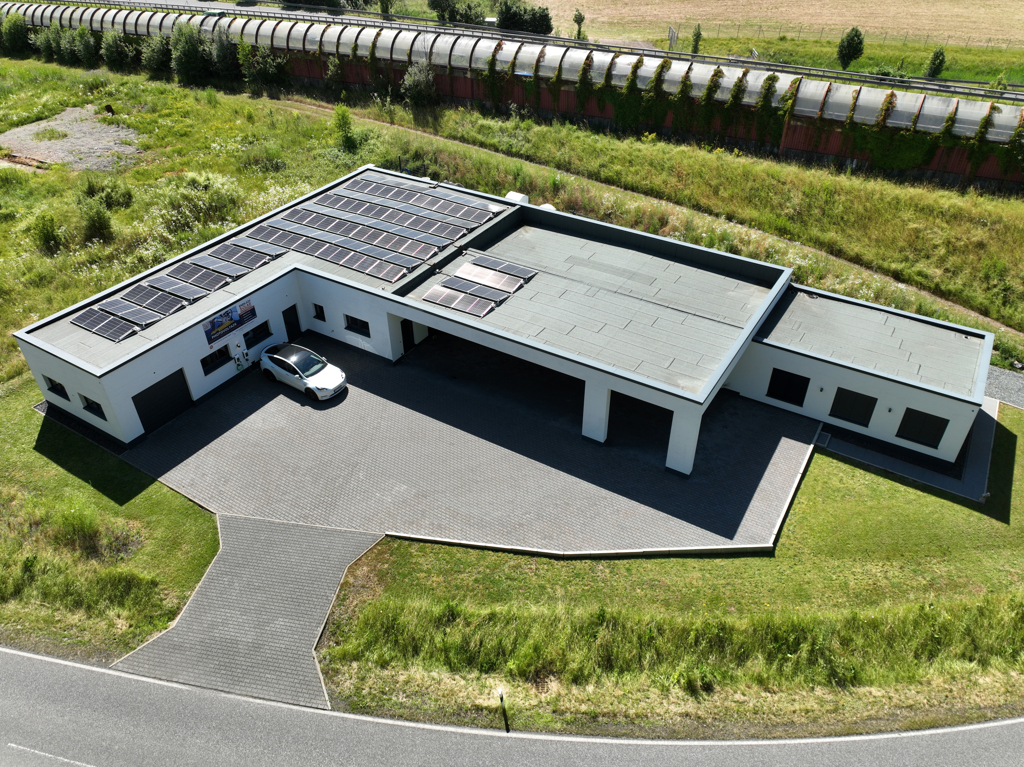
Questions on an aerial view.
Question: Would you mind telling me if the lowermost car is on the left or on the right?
left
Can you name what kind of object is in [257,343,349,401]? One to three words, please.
car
